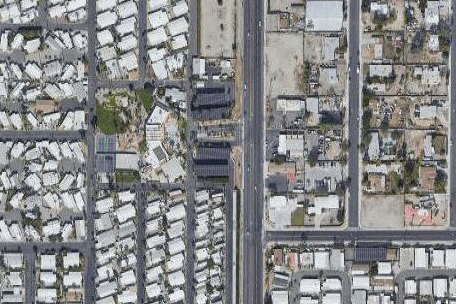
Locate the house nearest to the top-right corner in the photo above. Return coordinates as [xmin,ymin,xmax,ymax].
[425,0,439,28]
